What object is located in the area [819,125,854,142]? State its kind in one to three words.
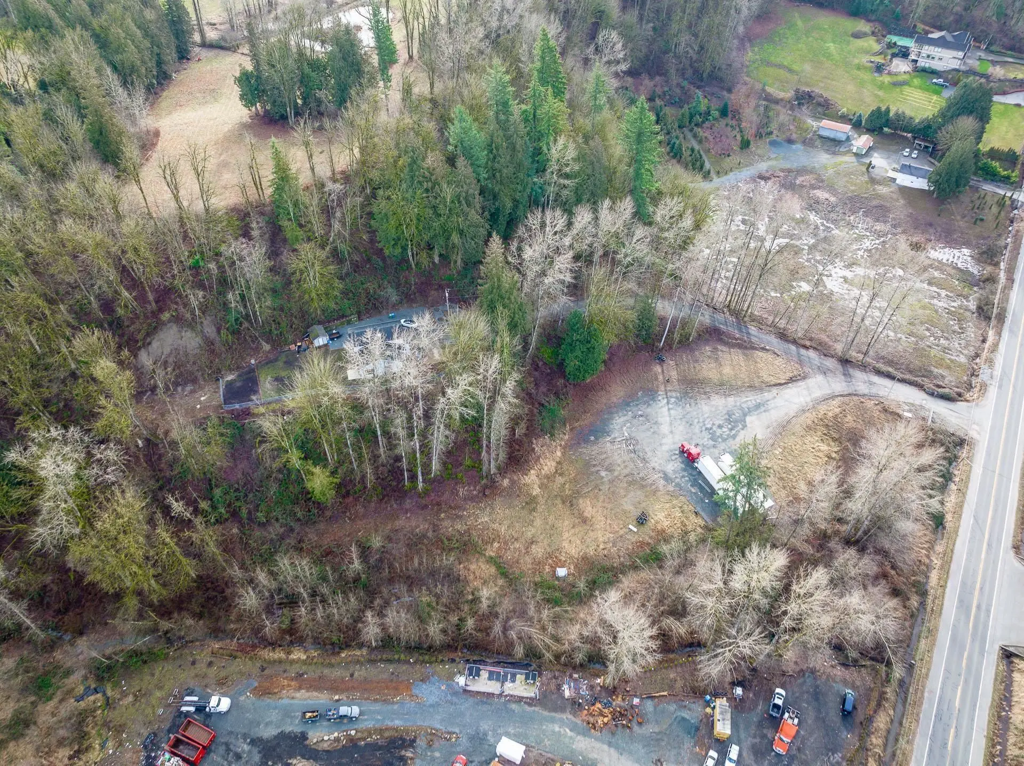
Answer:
barn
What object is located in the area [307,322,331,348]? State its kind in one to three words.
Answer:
shed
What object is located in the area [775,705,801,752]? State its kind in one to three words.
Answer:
truck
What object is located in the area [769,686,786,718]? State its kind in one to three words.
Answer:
vehicle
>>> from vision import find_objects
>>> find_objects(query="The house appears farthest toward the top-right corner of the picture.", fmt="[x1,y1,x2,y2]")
[910,28,973,72]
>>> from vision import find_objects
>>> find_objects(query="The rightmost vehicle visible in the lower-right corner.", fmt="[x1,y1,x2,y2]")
[840,689,856,715]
